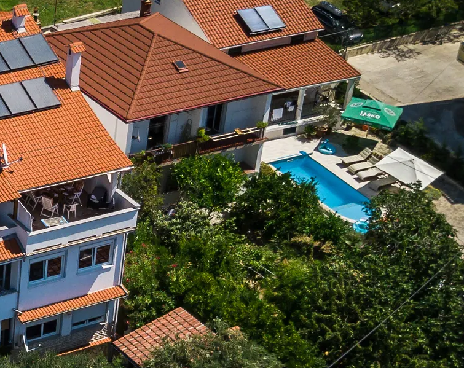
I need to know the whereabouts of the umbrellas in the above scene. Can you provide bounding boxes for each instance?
[335,98,409,148]
[370,150,451,202]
